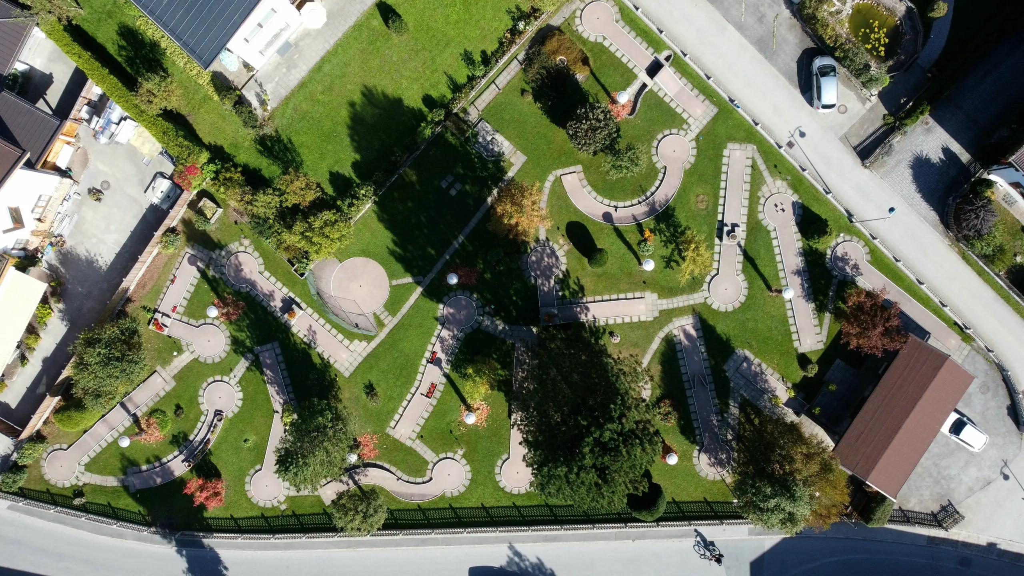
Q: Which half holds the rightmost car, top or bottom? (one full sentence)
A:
The rightmost car sits in the bottom half of the picture.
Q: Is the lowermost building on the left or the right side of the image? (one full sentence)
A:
You can find the lowermost building on the right side of the picture.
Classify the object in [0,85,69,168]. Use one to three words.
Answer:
shed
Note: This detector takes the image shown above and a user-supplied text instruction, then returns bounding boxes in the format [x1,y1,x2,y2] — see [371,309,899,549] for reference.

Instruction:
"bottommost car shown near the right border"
[939,412,993,457]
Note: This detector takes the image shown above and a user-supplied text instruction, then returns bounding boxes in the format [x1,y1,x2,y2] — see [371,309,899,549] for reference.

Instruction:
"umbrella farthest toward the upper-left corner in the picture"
[219,50,242,72]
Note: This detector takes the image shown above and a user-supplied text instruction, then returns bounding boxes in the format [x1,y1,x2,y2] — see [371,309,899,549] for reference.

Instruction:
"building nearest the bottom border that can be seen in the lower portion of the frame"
[834,333,976,502]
